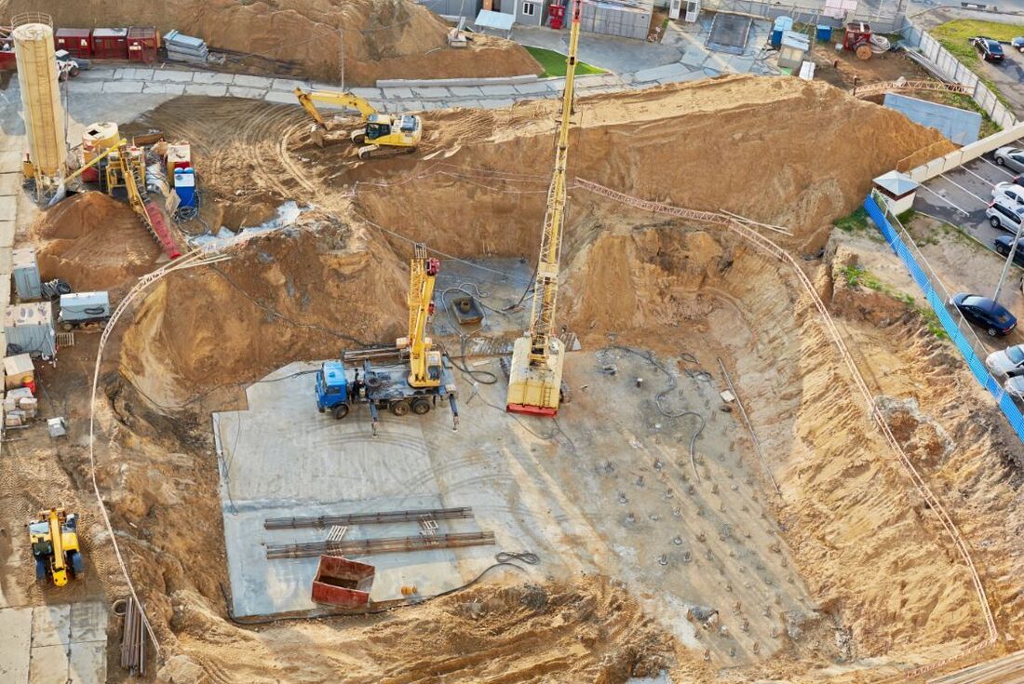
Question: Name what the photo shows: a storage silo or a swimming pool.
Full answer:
Looking from above, you can make out a storage silo.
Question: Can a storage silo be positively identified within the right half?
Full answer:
No, no storage silo is visible within the right half.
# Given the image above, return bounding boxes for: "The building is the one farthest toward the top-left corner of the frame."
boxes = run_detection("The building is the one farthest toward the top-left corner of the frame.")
[52,23,94,61]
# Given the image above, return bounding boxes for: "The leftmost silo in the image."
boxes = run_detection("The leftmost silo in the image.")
[5,6,68,190]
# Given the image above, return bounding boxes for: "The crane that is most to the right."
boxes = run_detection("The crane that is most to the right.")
[506,0,587,417]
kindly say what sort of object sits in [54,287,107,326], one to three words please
trailer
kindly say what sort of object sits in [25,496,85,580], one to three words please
work vehicle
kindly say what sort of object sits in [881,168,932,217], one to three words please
shed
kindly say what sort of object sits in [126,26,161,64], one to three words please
building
